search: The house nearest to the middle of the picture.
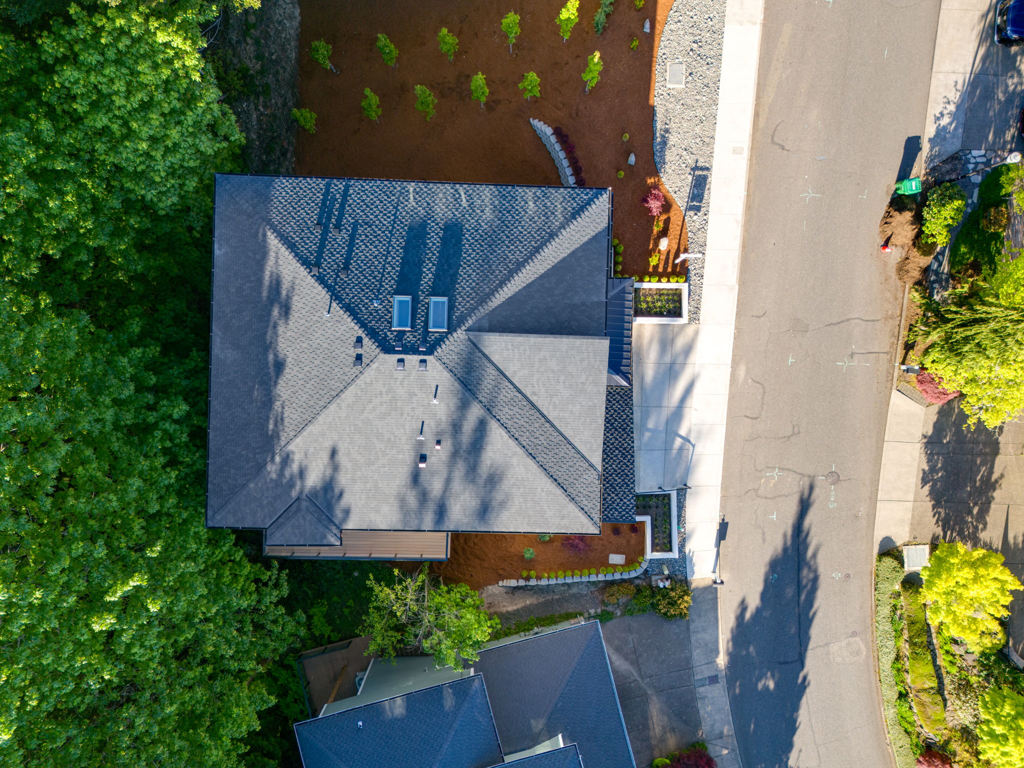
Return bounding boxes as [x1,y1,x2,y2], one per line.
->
[204,175,638,560]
